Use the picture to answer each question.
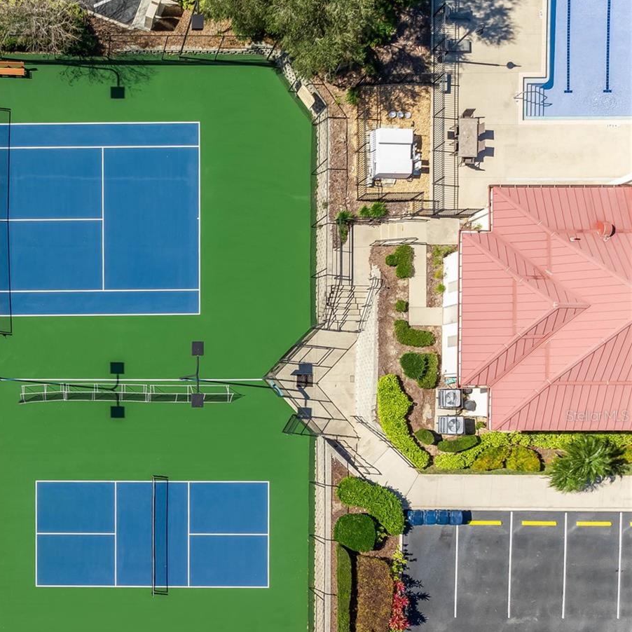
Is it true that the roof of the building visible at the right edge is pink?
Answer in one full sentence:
Yes, the roof of the building visible at the right edge is pink.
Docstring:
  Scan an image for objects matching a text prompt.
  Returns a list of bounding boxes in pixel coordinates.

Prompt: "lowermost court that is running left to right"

[36,481,269,587]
